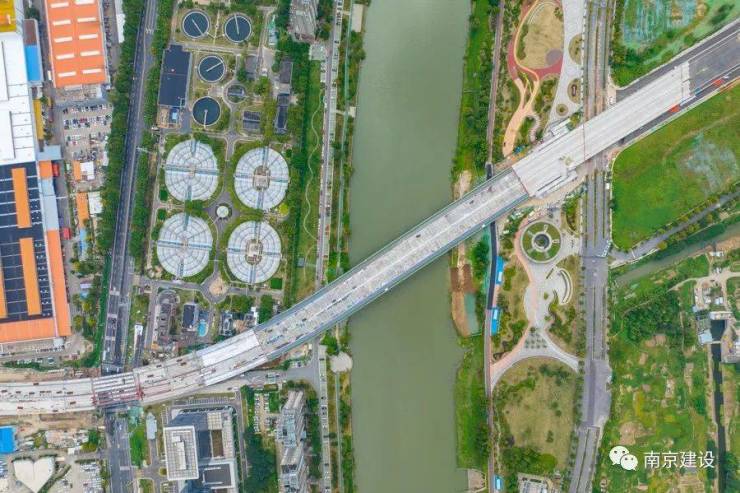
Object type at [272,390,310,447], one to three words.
building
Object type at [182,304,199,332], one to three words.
building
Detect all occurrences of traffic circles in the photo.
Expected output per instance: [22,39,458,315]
[200,274,231,303]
